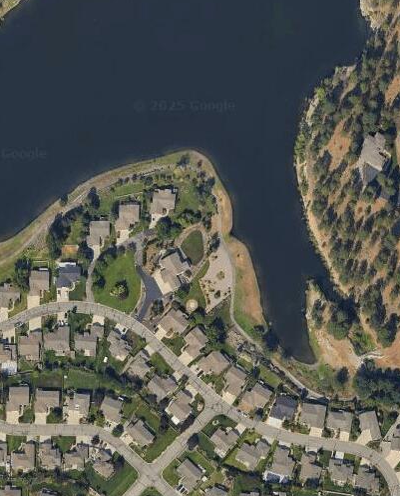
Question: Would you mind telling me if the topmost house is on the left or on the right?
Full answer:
The topmost house sits on the right side.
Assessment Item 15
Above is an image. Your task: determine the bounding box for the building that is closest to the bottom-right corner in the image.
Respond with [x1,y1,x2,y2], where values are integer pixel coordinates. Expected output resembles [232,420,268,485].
[357,466,382,493]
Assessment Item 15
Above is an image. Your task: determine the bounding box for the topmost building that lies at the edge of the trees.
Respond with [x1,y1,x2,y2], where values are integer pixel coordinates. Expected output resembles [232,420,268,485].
[360,134,391,168]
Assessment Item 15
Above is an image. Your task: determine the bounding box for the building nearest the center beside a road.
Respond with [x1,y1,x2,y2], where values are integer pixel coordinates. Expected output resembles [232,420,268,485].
[160,250,195,290]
